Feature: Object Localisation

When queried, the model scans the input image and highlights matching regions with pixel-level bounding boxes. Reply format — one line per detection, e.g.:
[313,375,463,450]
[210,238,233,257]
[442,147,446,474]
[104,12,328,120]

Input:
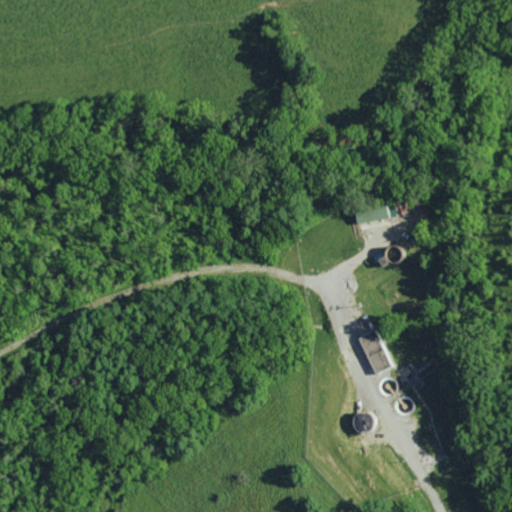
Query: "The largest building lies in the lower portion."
[359,330,393,374]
